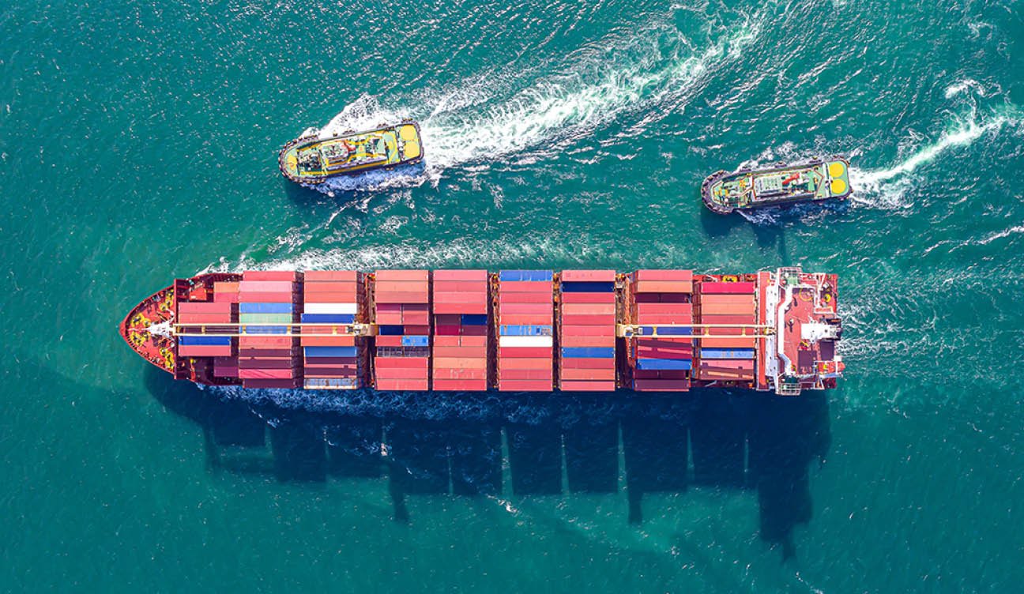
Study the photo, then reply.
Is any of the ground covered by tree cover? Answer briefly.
No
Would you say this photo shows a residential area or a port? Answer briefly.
port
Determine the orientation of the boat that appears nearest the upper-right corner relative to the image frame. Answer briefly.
from side to side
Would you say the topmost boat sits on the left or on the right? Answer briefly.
left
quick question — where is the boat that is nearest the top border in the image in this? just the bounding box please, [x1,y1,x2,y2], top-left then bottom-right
[276,122,426,184]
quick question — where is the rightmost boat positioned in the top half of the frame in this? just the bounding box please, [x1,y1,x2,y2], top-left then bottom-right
[701,157,849,214]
